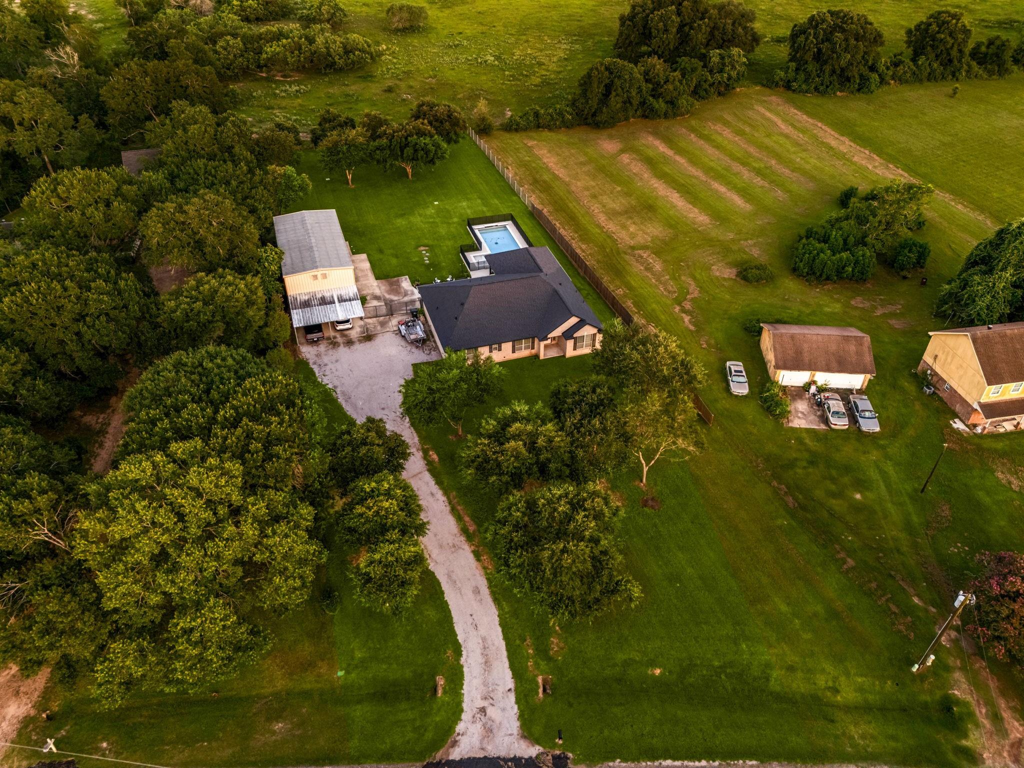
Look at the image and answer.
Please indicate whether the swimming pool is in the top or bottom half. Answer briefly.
top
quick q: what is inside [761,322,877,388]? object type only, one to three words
building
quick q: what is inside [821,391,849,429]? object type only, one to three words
car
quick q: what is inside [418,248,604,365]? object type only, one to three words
house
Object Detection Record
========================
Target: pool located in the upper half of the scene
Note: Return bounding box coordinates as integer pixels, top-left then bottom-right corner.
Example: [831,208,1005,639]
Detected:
[459,220,533,280]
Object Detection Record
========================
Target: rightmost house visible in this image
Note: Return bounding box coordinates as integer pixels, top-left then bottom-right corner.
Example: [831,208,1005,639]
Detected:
[917,322,1024,436]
